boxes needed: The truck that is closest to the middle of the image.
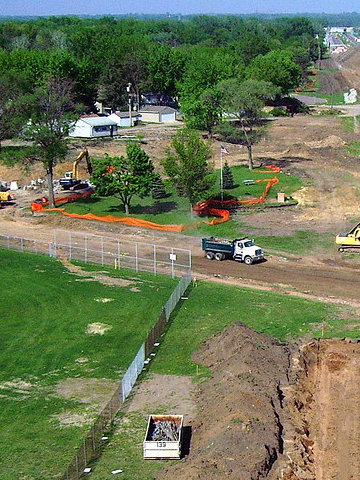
[192,238,266,268]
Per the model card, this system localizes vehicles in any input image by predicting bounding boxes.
[58,142,102,190]
[192,238,266,268]
[334,224,360,254]
[0,190,17,208]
